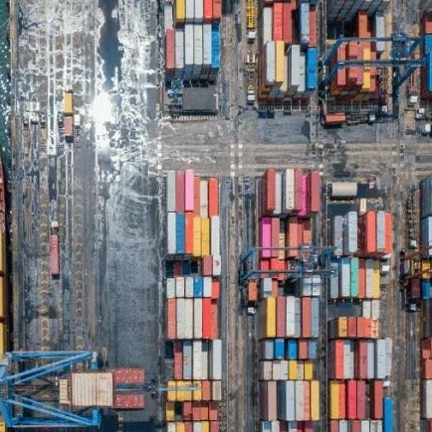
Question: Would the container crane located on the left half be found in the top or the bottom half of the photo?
bottom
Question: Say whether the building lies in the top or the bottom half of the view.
top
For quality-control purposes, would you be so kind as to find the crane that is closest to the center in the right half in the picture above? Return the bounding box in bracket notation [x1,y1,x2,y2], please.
[238,245,339,286]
